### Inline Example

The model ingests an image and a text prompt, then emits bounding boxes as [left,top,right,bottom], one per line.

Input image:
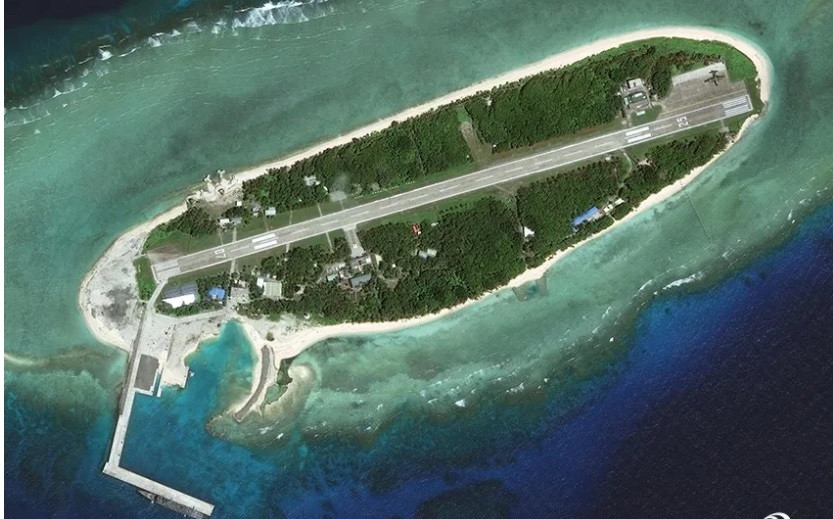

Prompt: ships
[136,490,210,519]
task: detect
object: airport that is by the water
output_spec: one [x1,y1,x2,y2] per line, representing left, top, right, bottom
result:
[152,62,752,282]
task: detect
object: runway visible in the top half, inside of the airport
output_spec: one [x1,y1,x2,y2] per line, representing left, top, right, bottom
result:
[152,94,752,282]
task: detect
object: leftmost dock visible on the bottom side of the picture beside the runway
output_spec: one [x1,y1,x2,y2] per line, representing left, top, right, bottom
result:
[102,305,215,517]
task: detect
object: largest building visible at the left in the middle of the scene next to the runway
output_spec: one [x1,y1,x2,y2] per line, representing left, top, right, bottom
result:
[161,281,198,307]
